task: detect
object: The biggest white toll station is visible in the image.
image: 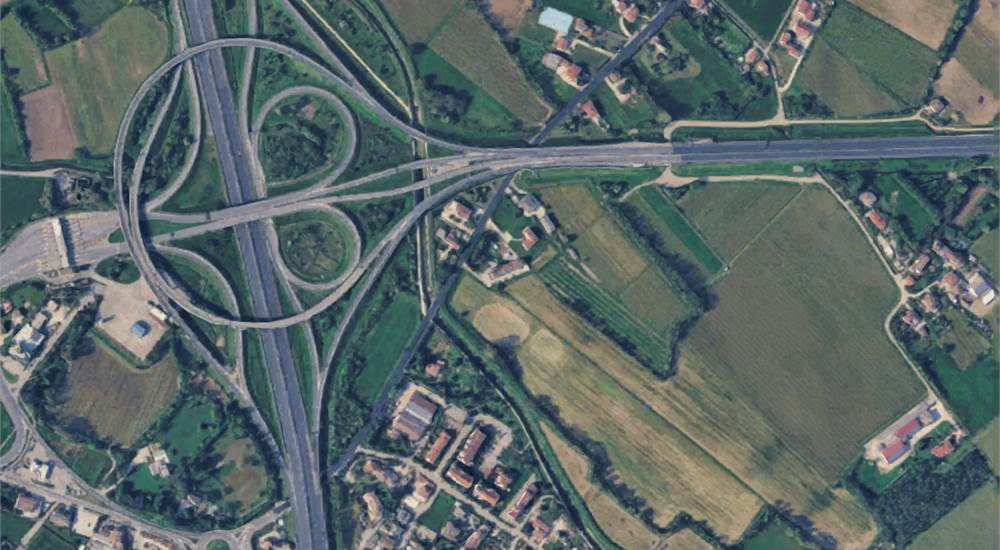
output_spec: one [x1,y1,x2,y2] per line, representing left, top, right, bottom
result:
[36,217,86,269]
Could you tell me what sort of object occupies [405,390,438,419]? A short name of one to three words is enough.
building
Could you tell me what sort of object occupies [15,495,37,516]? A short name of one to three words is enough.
house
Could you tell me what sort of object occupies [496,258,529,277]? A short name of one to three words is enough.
house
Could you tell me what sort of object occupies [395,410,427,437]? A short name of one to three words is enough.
building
